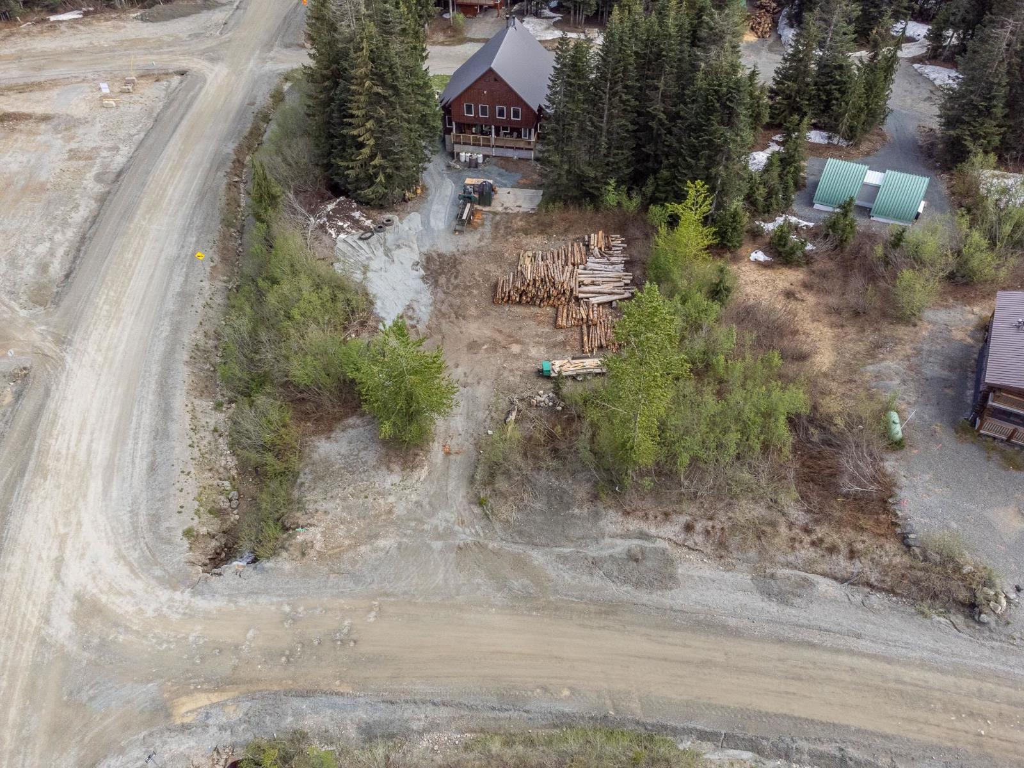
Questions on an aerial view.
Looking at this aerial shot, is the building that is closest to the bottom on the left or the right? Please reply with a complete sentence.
The building that is closest to the bottom sits on the right side.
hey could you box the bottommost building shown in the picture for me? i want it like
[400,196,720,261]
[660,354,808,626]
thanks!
[956,288,1024,456]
